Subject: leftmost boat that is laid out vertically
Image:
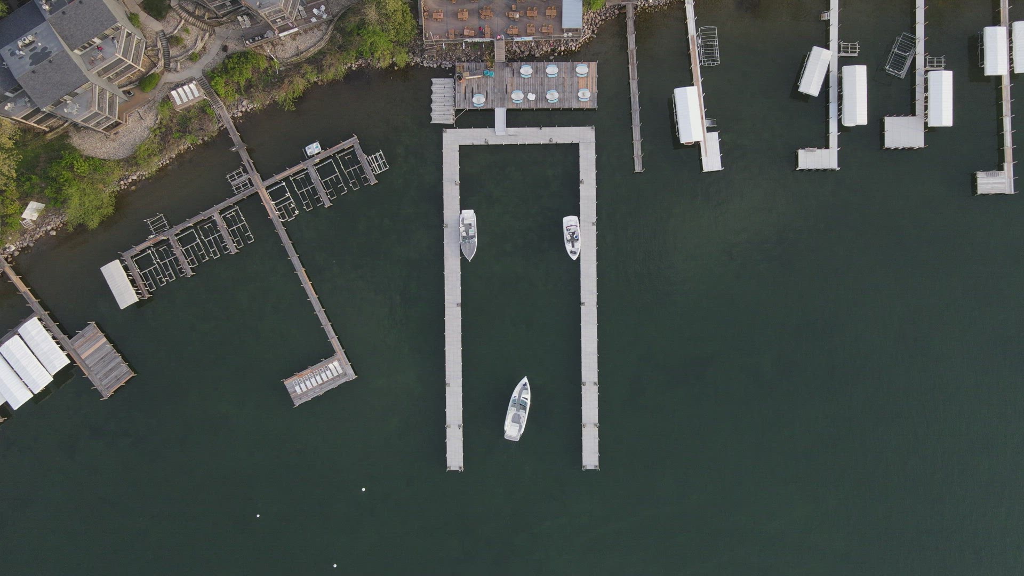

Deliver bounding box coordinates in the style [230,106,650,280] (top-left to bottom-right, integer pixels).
[459,210,477,262]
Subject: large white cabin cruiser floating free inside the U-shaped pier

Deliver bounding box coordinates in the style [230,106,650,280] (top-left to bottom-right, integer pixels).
[504,375,530,441]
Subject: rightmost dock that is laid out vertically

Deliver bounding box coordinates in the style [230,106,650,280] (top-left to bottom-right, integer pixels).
[973,0,1018,195]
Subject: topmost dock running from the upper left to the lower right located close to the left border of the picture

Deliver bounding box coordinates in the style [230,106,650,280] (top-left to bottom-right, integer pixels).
[0,255,138,398]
